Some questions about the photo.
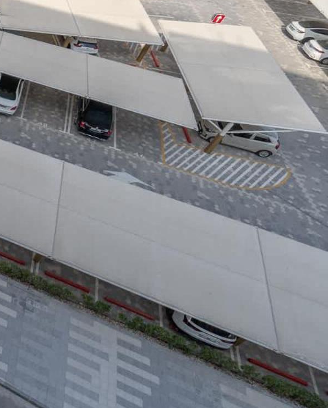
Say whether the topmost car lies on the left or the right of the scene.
right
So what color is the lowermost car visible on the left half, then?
black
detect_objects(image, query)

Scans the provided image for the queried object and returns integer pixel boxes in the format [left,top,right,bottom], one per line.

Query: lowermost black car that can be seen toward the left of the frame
[76,97,119,139]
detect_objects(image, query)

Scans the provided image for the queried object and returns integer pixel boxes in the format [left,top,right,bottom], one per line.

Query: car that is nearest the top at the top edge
[290,16,328,41]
